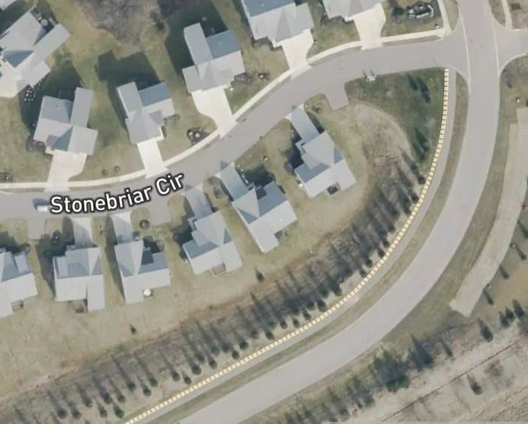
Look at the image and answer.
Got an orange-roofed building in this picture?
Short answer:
No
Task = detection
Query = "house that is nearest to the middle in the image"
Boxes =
[229,181,297,252]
